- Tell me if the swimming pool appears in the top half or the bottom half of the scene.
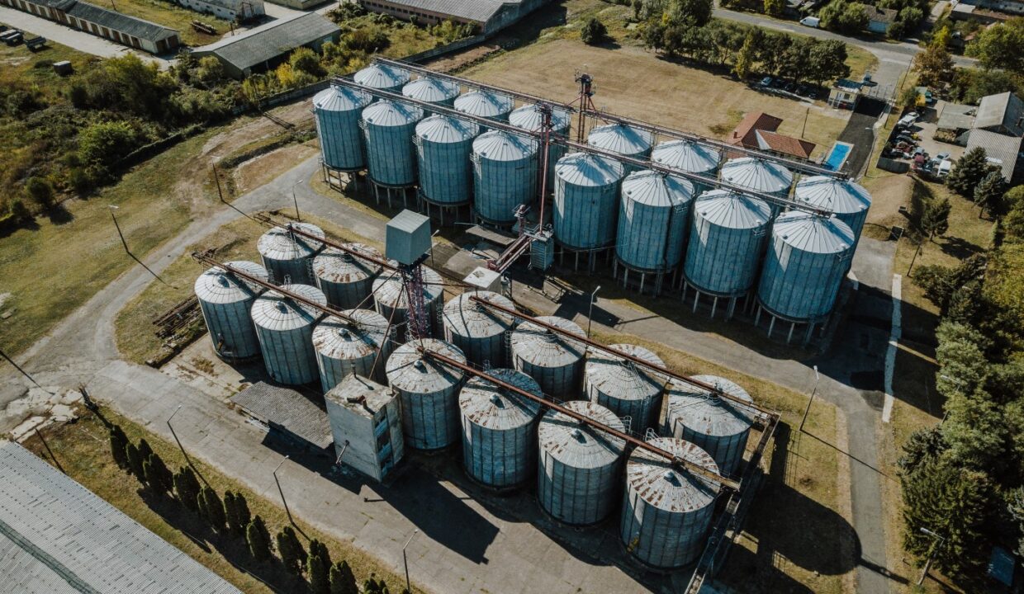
top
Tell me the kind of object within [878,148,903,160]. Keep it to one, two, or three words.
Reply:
vehicle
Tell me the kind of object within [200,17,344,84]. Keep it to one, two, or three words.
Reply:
shed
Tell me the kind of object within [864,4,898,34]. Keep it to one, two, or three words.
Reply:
house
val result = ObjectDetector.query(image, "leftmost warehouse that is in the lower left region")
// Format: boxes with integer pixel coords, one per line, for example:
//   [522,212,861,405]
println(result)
[0,440,245,594]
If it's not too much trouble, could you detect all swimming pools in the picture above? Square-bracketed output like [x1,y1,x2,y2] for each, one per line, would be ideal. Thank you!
[824,139,854,168]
